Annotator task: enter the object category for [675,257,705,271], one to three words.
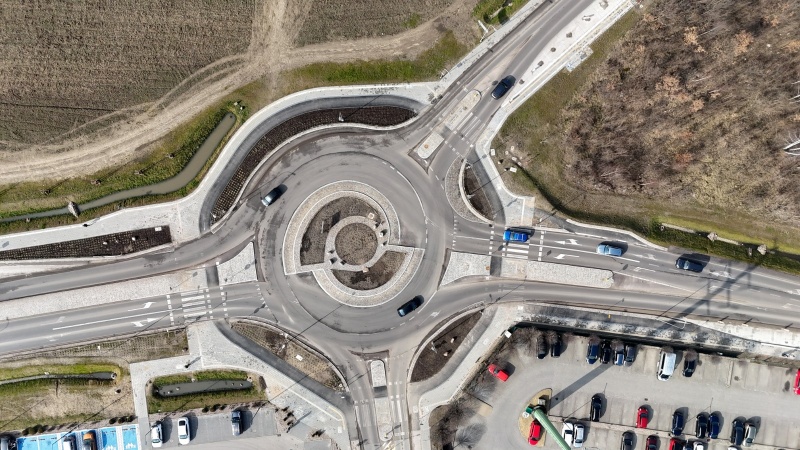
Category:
car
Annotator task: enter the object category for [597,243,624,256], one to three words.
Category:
vehicle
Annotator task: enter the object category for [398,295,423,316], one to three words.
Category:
car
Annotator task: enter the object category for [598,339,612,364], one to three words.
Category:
vehicle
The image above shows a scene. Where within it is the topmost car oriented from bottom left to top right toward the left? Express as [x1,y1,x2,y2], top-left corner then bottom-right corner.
[260,184,284,208]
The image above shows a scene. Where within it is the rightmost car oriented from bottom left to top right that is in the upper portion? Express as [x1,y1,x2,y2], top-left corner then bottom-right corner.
[490,75,515,100]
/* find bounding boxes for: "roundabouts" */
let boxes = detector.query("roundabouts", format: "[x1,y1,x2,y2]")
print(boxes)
[233,126,449,352]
